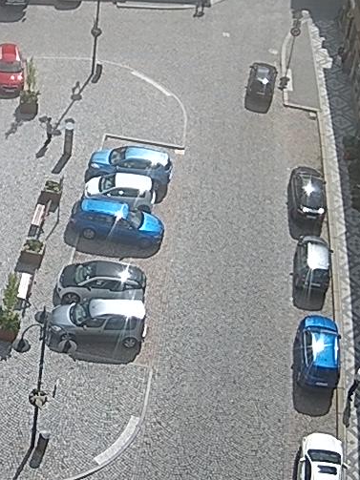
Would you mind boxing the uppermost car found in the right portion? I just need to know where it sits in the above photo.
[246,73,283,110]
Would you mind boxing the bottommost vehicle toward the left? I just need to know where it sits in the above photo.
[50,303,149,362]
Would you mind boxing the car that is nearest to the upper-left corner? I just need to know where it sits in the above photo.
[0,45,25,90]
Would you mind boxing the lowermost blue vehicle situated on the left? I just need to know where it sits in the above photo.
[70,198,168,245]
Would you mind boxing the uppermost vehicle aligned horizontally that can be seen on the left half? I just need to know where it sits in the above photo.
[89,146,173,185]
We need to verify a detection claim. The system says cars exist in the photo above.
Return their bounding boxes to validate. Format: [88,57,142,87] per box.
[50,303,149,362]
[0,45,25,90]
[57,261,150,308]
[290,174,335,228]
[294,314,350,387]
[246,73,283,110]
[89,146,173,185]
[70,198,168,245]
[291,236,342,297]
[85,171,160,210]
